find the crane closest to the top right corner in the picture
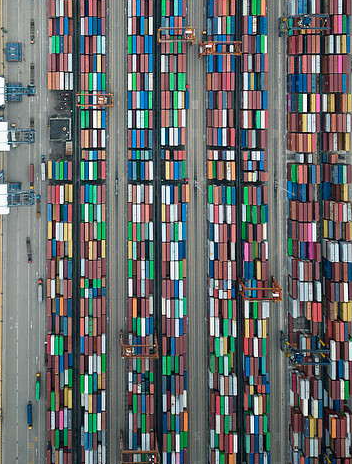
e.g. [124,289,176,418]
[279,14,329,37]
